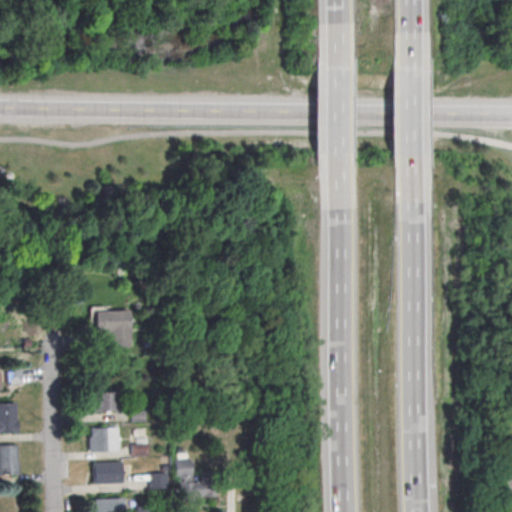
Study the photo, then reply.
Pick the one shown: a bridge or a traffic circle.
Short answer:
bridge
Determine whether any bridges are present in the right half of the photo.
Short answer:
Yes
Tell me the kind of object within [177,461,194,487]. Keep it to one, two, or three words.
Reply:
house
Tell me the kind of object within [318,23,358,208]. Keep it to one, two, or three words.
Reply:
bridge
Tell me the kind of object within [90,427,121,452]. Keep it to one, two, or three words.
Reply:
house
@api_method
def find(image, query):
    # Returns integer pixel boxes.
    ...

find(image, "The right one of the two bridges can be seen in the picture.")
[394,23,433,208]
